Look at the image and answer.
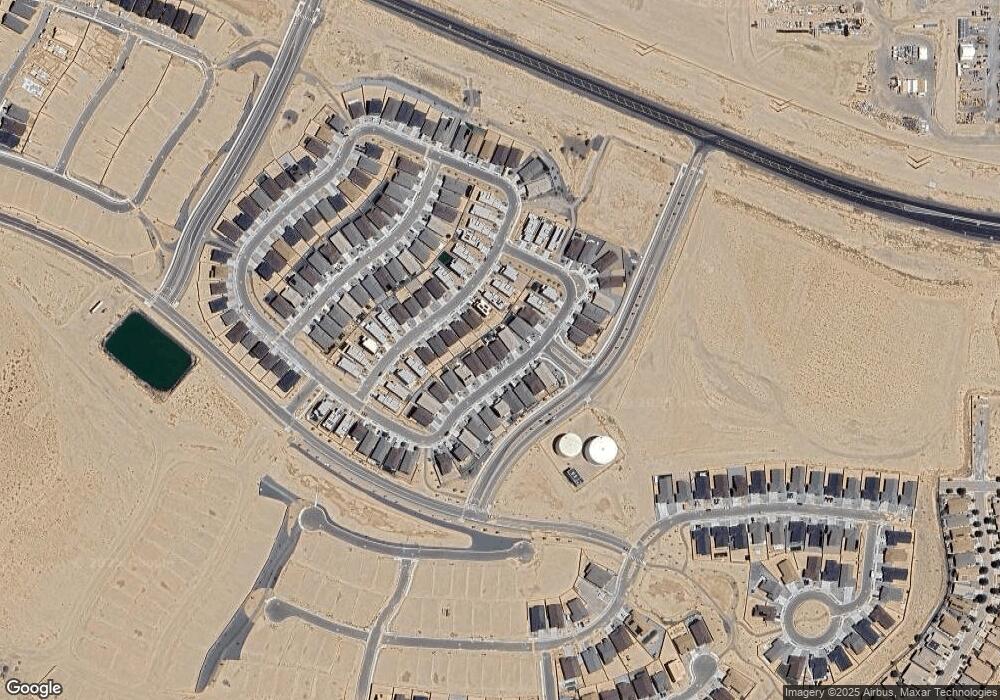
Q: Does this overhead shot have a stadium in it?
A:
No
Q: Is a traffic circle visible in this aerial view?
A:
Yes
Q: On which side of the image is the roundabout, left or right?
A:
right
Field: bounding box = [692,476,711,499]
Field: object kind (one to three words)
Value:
house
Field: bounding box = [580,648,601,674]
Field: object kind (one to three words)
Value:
house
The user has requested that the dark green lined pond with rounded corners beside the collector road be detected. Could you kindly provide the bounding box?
[100,305,197,395]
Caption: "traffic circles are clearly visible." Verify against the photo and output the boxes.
[785,590,838,646]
